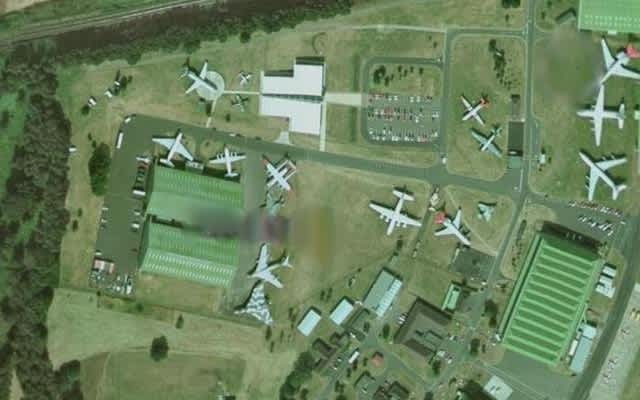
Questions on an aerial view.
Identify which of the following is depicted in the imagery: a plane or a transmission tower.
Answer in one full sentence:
I can see a plane in this picture.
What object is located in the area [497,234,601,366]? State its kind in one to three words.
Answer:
hangar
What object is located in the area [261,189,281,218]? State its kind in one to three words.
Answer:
airplane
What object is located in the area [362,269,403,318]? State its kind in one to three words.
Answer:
building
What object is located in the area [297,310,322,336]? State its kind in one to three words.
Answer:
shed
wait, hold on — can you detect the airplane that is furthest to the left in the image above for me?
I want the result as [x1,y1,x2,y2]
[151,132,195,165]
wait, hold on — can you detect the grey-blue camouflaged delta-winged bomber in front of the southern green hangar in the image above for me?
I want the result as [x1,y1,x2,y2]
[234,279,272,320]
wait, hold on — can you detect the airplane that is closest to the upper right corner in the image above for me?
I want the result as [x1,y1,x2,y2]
[601,37,640,83]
